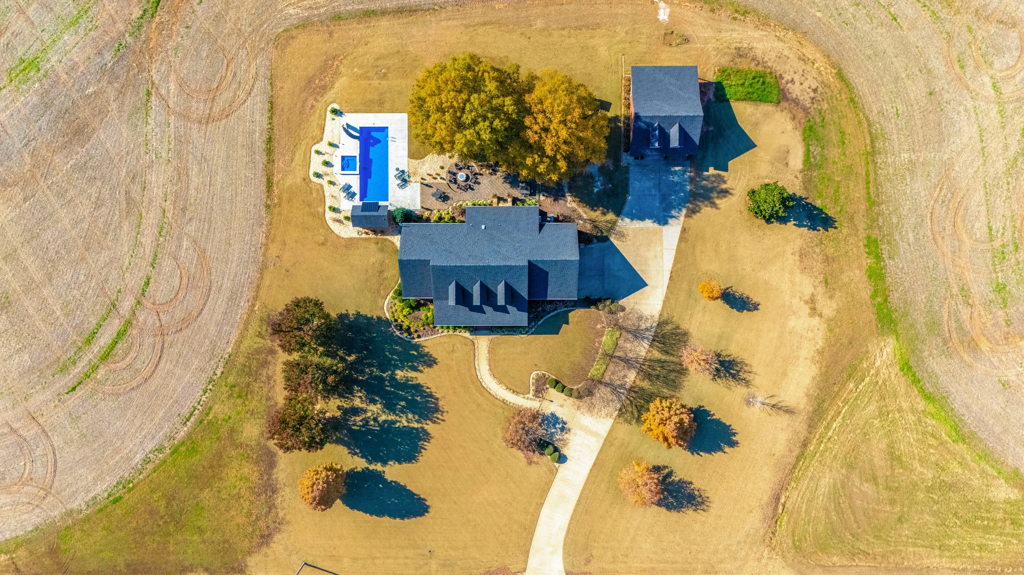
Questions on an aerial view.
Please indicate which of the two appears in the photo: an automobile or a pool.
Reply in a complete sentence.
Of the two, only a pool appears.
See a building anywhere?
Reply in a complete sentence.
Yes, looking at the shot, I can spot a building.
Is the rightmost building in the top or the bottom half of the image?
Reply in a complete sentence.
The rightmost building is in the top half of the image.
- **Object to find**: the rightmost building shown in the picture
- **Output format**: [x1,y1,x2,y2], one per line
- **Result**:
[629,65,703,158]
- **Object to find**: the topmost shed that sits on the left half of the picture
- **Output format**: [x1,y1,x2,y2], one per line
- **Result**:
[350,205,390,227]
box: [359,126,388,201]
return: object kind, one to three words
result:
swimming pool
